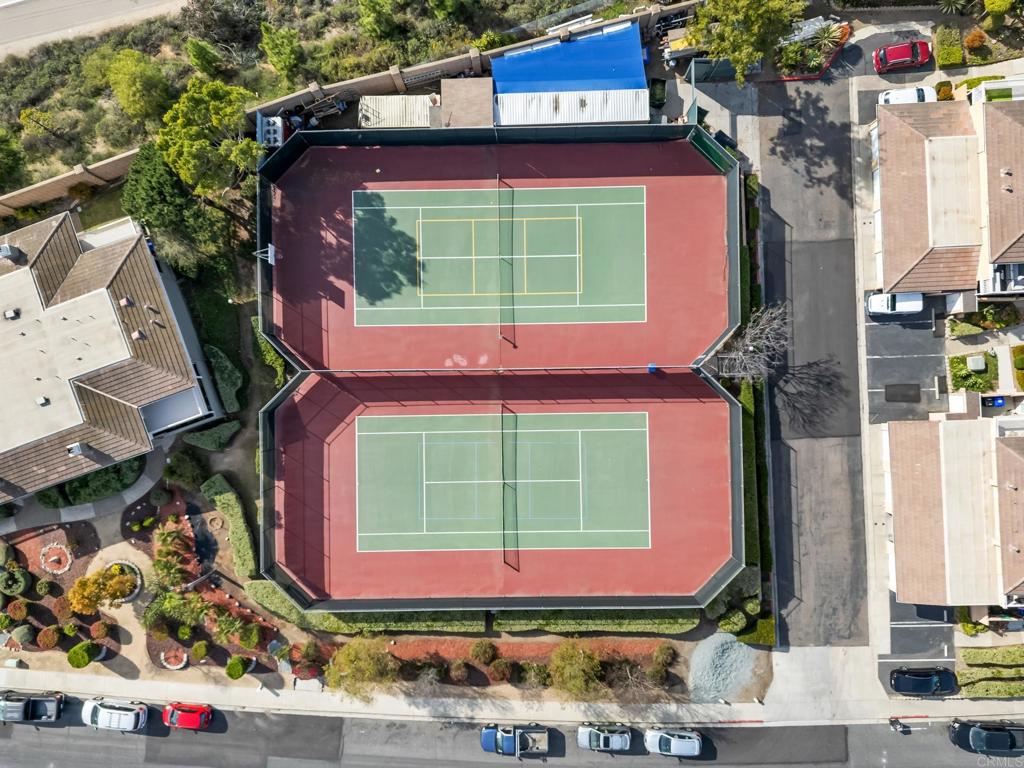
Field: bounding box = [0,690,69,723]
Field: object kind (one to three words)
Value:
truck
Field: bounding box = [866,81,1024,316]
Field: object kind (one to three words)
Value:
house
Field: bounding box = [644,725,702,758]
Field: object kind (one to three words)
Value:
car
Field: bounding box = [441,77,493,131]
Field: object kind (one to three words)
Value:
shed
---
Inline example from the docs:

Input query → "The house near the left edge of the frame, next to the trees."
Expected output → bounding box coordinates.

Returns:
[0,211,235,504]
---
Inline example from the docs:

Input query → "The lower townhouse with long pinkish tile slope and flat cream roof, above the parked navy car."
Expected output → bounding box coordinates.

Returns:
[877,416,1024,626]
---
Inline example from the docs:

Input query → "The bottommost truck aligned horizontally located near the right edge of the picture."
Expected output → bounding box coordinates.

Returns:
[945,718,1024,757]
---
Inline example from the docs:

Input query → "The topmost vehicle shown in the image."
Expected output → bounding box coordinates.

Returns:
[869,38,929,75]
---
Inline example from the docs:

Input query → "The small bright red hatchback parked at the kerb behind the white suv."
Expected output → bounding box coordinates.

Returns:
[165,700,215,730]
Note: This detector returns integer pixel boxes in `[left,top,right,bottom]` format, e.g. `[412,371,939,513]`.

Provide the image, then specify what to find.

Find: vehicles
[890,666,954,699]
[165,700,215,730]
[85,696,150,731]
[945,718,1024,757]
[482,723,548,758]
[869,38,929,75]
[0,690,69,723]
[644,725,702,758]
[576,722,630,752]
[875,81,937,105]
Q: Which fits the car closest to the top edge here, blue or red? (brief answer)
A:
red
